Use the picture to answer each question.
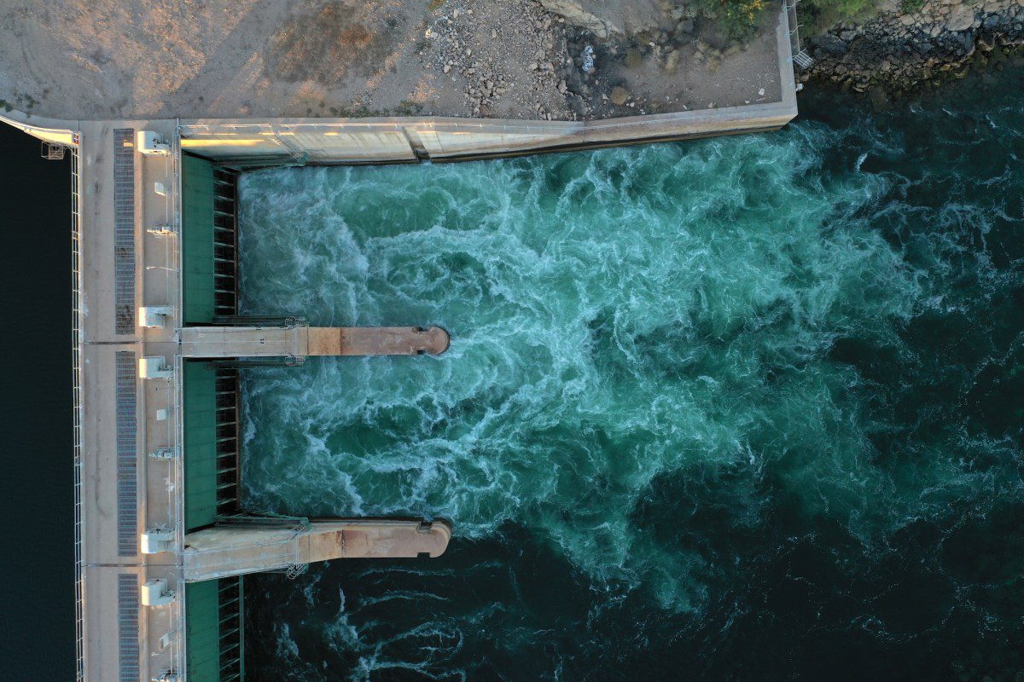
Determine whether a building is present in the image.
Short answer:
No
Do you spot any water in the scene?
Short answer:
Yes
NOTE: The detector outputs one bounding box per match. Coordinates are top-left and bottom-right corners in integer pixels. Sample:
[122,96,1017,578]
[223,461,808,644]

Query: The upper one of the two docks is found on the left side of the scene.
[183,326,452,356]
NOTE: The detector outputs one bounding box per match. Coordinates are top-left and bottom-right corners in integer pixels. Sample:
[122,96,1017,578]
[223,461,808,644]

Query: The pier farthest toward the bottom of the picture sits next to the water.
[184,519,452,581]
